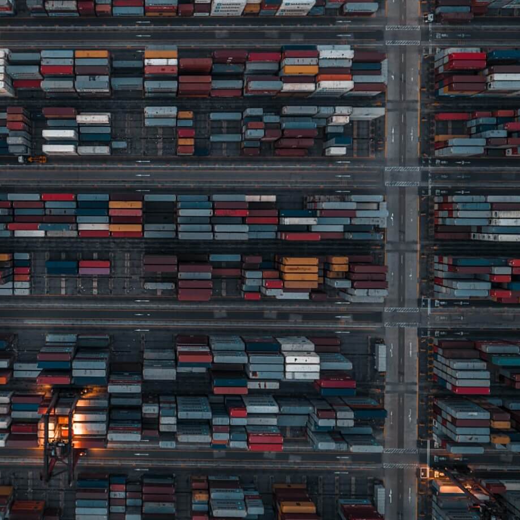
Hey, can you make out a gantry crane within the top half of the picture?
No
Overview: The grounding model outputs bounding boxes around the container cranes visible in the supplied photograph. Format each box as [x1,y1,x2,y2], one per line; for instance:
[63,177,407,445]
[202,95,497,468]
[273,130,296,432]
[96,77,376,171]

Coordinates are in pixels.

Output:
[431,473,506,520]
[44,387,89,483]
